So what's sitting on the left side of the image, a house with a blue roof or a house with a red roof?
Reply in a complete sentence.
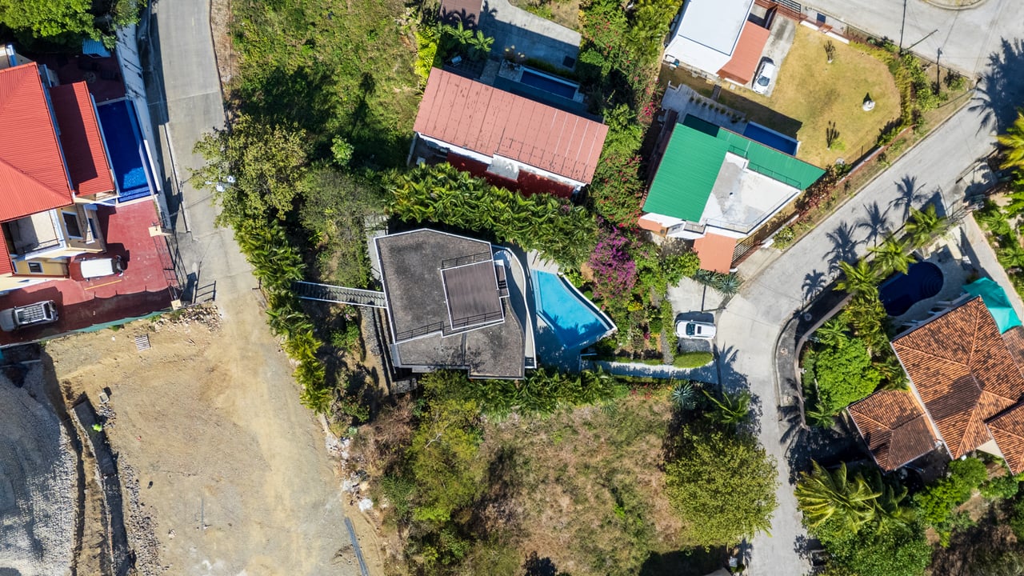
You can see a house with a red roof on the left side of the image.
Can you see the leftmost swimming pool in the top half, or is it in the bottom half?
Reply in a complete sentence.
The leftmost swimming pool is in the top half of the image.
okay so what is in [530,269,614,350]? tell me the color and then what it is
blue swimming pool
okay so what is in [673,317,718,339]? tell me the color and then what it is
white car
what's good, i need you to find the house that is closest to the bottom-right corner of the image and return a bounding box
[839,290,1024,475]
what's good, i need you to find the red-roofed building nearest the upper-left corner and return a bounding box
[0,45,123,289]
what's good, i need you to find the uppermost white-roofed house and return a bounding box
[663,0,770,91]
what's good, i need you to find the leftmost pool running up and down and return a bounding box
[98,99,149,198]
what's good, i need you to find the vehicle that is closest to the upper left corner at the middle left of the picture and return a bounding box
[77,255,126,278]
